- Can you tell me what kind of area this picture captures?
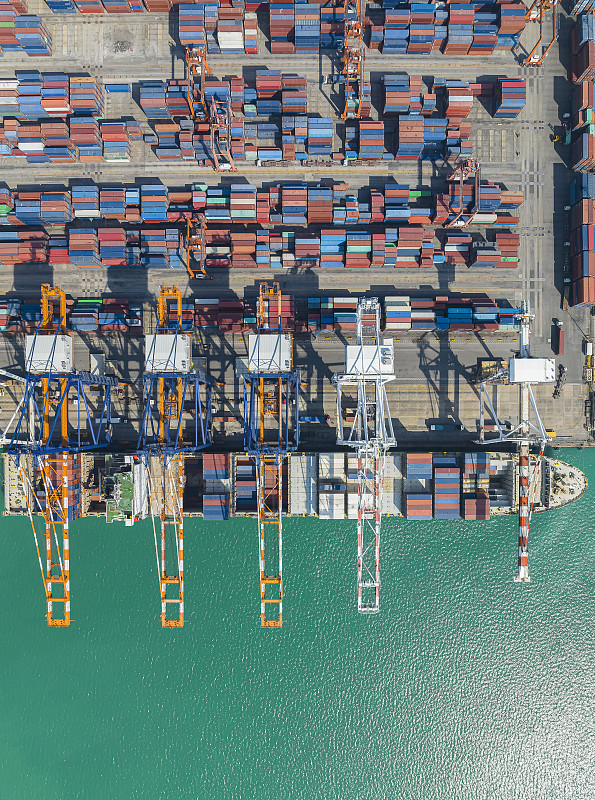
port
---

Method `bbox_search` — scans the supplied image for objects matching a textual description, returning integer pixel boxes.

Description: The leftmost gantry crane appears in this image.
[0,376,44,448]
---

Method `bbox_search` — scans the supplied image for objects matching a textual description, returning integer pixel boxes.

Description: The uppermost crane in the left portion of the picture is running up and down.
[186,48,212,116]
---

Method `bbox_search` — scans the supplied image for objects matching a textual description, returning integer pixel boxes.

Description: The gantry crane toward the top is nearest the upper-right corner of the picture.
[525,0,561,62]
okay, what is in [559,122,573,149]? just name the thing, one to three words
work vehicle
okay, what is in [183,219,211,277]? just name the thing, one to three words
container crane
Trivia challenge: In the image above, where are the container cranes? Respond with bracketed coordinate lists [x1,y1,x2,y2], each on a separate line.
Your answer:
[183,219,211,277]
[186,48,212,116]
[213,102,237,170]
[340,48,366,116]
[341,0,365,64]
[7,283,126,626]
[447,161,480,228]
[326,296,400,612]
[468,290,559,587]
[525,0,561,62]
[137,283,224,627]
[242,283,308,627]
